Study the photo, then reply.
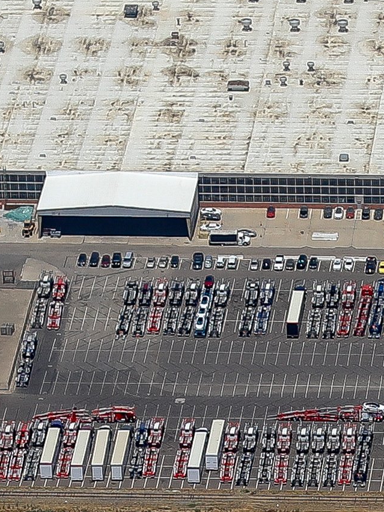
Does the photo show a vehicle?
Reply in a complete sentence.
Yes, the frame does contain a vehicle.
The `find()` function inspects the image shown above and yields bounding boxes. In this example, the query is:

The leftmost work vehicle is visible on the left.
[22,220,36,237]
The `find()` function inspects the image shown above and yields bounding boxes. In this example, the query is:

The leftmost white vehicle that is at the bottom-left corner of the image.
[39,421,63,475]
